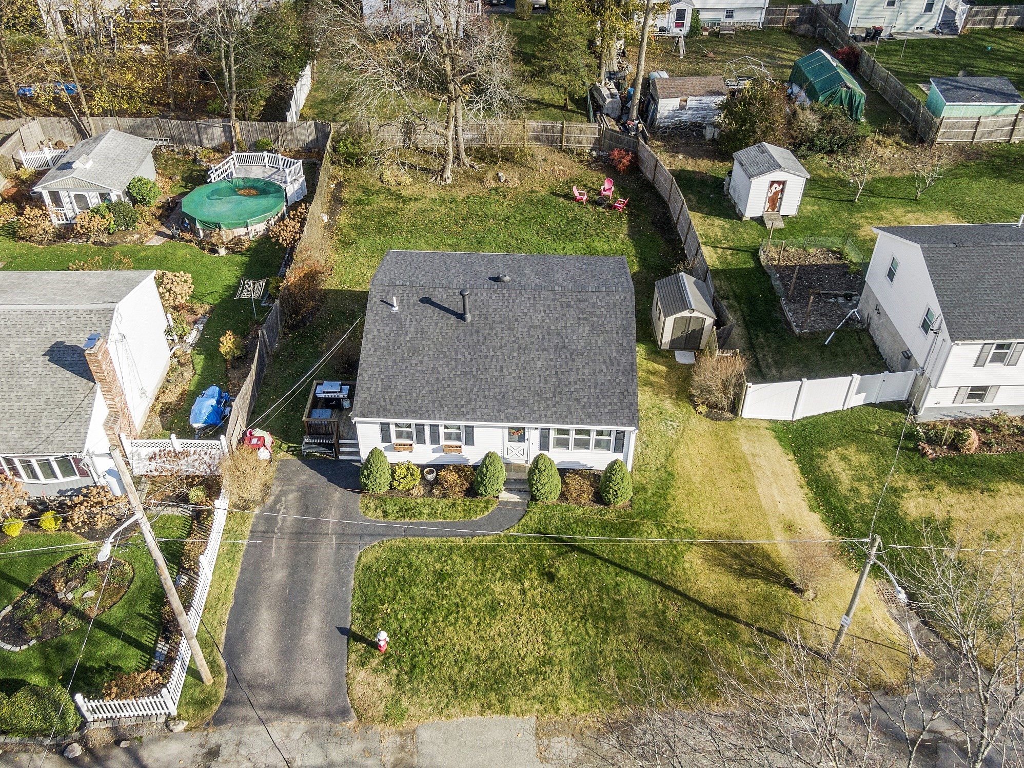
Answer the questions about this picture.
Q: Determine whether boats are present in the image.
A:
Yes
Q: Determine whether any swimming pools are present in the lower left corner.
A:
No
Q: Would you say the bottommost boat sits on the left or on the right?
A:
left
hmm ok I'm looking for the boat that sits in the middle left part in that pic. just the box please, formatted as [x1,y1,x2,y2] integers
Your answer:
[188,377,232,424]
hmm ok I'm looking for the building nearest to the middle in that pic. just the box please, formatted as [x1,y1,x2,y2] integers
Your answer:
[348,250,642,475]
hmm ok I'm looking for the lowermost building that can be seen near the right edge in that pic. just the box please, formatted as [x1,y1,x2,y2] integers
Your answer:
[858,218,1024,425]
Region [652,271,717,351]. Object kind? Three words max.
shed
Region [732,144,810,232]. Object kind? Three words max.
shed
